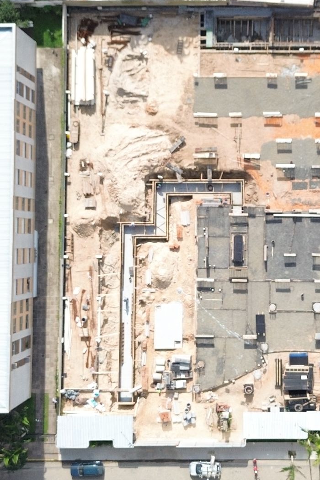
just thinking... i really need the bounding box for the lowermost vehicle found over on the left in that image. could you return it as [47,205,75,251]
[72,461,106,479]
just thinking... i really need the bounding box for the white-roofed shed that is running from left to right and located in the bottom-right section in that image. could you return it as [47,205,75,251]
[243,408,309,440]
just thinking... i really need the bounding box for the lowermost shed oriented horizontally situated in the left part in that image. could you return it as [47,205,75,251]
[57,413,135,448]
